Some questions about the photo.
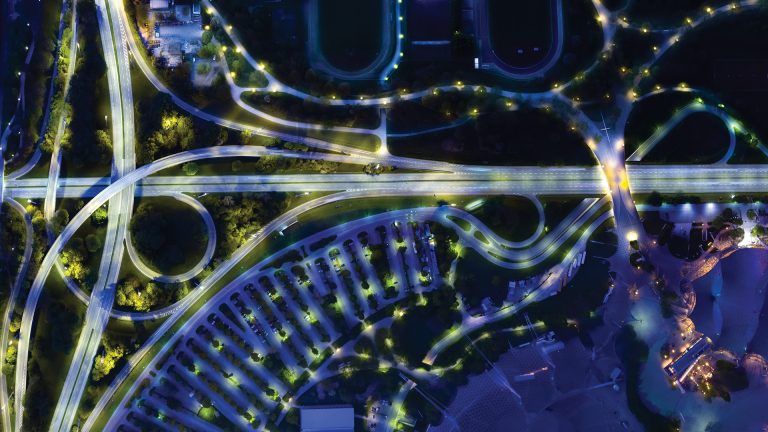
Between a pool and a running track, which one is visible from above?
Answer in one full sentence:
The one in the frame is a running track.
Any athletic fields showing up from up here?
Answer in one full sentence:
Yes, this view includes an athletic field.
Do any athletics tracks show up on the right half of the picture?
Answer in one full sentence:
Yes, an athletics track can be seen on the right half of the picture.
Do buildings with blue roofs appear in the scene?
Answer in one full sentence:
Yes, I can see a building with a blue roof in this picture.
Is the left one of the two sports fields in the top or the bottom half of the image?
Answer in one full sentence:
The left one of the two sports fields is in the top half of the image.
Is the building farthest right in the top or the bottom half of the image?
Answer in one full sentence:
Seen from above, the building farthest right lies in the bottom half of the view.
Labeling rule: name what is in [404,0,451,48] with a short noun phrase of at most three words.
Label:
sports court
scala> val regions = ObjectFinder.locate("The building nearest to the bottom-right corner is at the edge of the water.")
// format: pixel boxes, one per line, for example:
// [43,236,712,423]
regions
[664,337,712,382]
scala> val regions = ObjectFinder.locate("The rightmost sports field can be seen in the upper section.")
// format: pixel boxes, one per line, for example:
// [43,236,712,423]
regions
[488,0,553,68]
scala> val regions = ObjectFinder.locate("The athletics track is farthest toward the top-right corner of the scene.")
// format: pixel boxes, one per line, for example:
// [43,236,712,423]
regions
[478,0,563,78]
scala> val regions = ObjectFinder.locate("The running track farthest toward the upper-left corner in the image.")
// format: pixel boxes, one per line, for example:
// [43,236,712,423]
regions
[308,0,392,80]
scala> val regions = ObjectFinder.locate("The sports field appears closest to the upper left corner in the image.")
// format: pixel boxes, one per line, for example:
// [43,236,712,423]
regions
[318,0,382,70]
